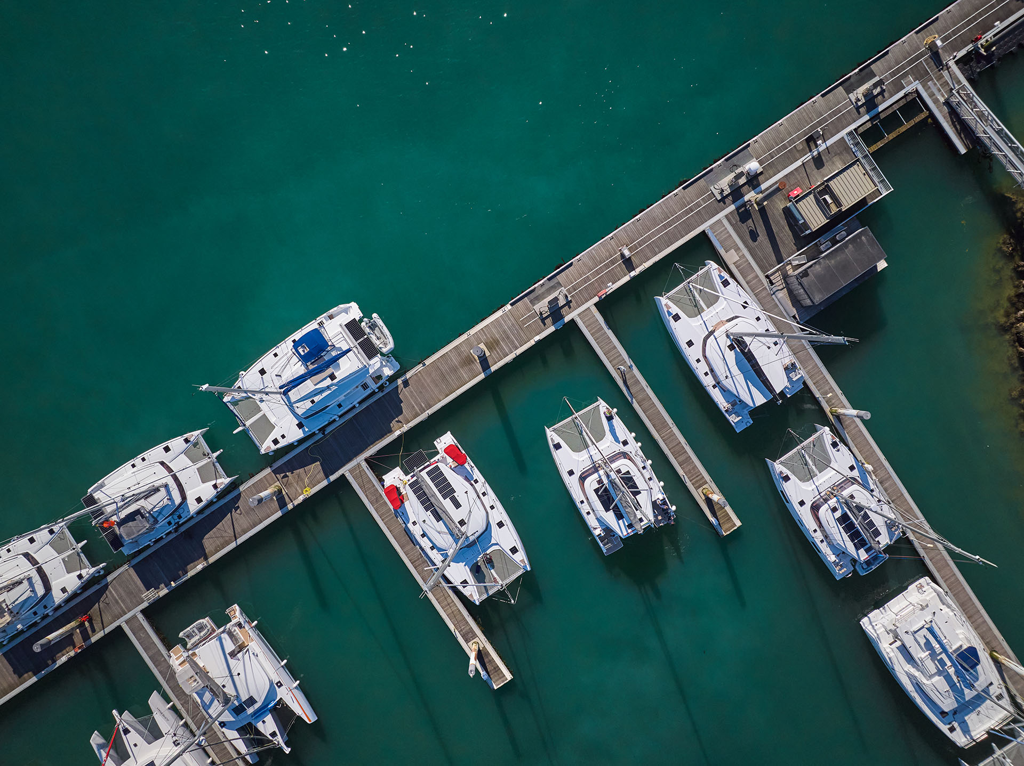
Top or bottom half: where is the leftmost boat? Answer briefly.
bottom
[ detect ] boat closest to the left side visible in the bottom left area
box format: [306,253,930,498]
[0,514,118,639]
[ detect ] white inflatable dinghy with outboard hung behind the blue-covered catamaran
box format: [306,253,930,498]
[358,312,397,358]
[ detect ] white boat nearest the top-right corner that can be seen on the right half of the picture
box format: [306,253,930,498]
[654,261,856,433]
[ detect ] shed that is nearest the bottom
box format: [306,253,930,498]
[764,218,887,324]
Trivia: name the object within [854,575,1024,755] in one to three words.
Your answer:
boat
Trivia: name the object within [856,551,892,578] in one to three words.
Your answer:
boat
